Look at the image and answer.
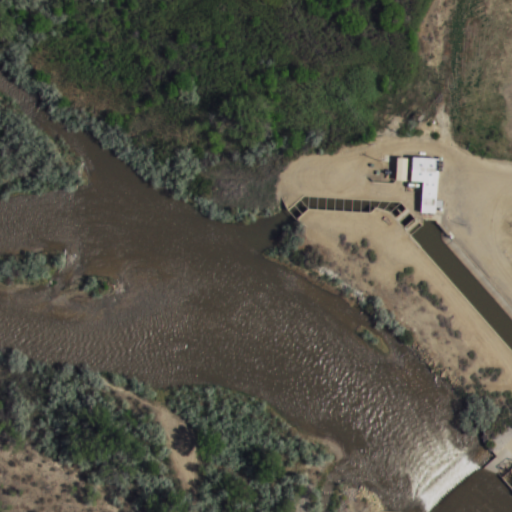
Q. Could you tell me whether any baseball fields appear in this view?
No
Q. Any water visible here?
Yes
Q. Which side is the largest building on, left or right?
right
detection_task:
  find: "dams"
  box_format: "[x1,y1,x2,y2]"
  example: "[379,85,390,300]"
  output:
[416,454,480,512]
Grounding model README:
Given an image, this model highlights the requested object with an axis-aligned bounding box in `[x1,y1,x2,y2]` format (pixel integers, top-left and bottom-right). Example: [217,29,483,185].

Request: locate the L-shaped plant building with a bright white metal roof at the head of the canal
[412,156,441,214]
